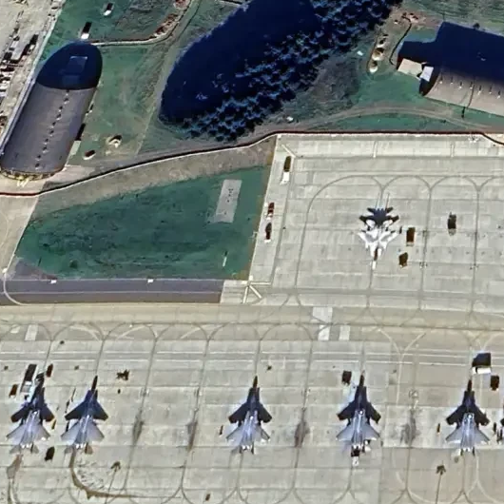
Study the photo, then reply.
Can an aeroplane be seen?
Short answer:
Yes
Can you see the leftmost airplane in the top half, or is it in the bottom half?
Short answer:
bottom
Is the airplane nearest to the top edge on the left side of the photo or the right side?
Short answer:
right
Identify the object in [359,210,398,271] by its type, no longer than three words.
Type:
airplane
